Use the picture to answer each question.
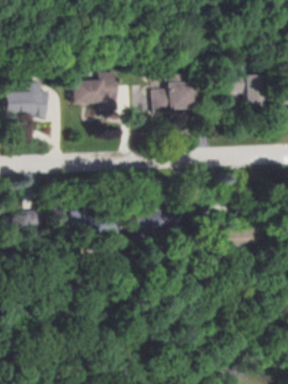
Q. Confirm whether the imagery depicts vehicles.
No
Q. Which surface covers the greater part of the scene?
trees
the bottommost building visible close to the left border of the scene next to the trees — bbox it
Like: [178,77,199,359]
[12,211,40,227]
